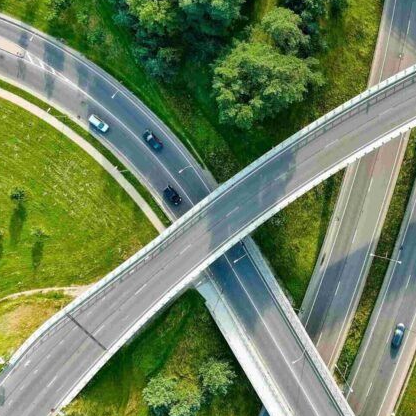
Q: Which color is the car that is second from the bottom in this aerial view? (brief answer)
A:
black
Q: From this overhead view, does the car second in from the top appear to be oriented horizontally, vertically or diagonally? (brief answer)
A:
diagonally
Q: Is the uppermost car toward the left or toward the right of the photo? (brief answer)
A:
left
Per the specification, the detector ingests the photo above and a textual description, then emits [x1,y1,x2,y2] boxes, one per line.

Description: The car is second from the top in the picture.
[142,129,165,152]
